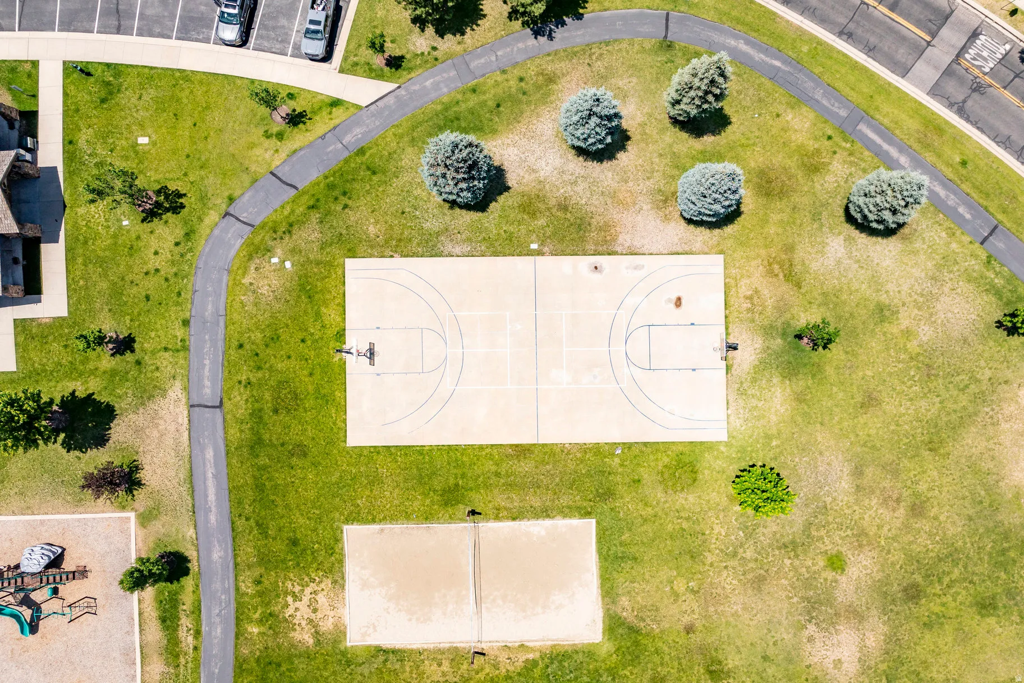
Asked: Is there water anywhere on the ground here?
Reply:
No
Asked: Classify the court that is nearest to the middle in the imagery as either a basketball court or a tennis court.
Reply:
basketball court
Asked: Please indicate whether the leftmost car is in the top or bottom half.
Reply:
top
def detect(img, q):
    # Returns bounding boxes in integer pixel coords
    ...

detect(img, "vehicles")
[300,0,343,61]
[215,0,259,49]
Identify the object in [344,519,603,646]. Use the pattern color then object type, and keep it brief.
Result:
white sports court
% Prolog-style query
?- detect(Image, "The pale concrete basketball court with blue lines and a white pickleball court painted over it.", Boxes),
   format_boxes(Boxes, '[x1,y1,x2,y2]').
[345,255,727,447]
